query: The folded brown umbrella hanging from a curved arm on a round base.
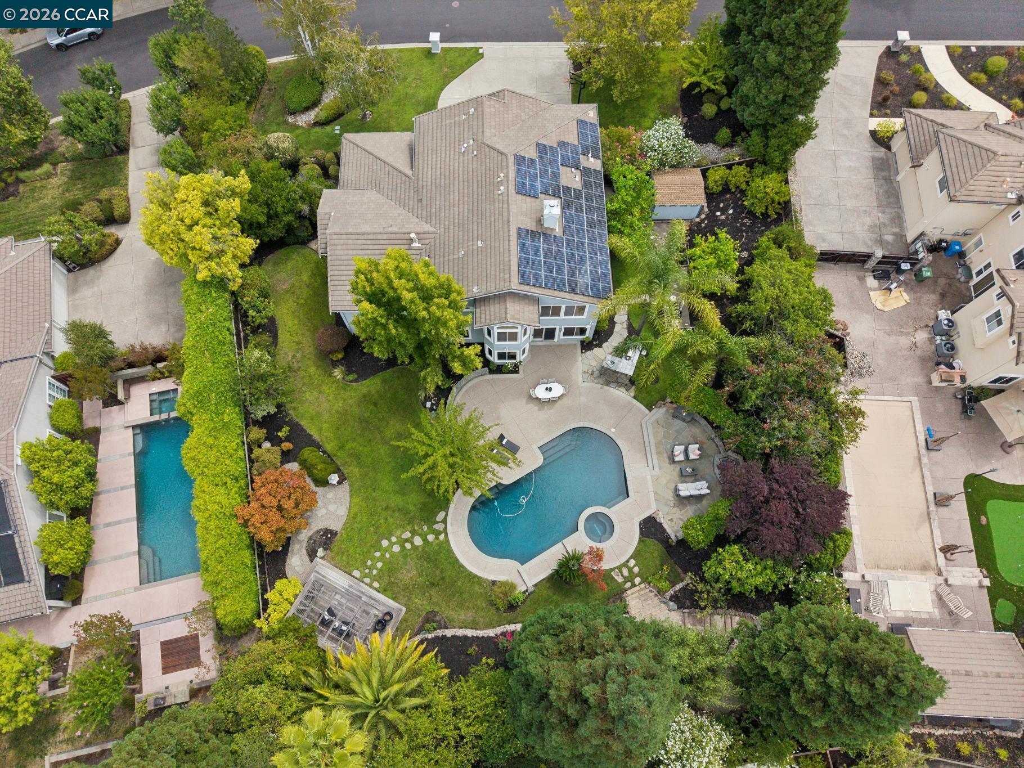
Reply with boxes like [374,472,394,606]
[938,542,970,562]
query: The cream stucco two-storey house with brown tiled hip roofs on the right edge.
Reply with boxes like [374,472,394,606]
[889,108,1024,388]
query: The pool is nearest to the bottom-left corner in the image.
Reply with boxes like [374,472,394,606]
[133,415,203,584]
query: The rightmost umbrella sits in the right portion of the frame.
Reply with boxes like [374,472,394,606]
[980,372,1024,454]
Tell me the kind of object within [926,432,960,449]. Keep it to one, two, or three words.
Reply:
umbrella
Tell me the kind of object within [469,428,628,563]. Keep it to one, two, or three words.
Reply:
swimming pool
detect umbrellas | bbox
[980,372,1024,454]
[926,432,960,449]
[938,542,970,562]
[932,491,967,505]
